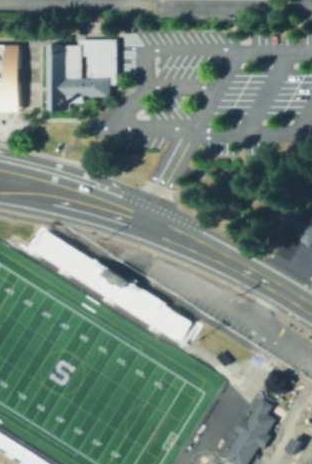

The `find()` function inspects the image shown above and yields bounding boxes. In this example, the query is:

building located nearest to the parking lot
[46,39,118,111]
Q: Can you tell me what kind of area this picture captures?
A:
sports ground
